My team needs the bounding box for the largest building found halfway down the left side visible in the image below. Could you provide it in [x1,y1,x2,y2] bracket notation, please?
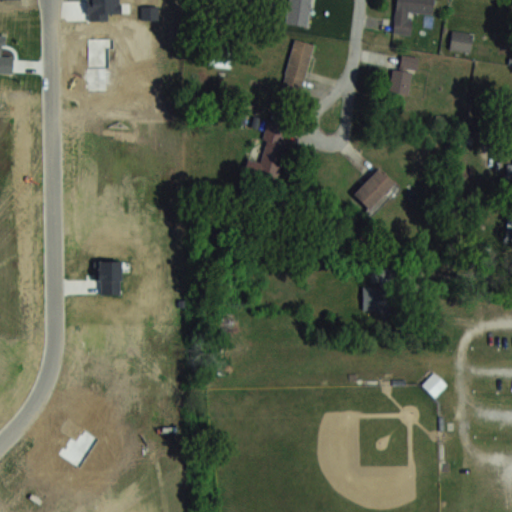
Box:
[98,262,122,296]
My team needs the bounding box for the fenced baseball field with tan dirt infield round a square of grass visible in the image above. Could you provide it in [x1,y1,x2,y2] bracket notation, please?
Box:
[210,383,445,512]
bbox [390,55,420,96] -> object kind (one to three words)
house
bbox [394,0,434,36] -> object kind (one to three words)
house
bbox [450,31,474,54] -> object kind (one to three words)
building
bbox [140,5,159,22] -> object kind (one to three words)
building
